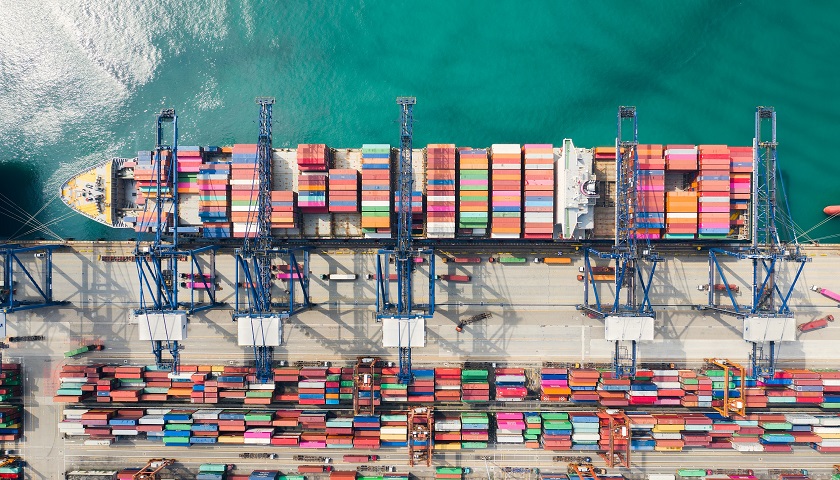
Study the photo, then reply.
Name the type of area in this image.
port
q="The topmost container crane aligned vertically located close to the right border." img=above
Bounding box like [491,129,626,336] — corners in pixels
[690,106,813,378]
